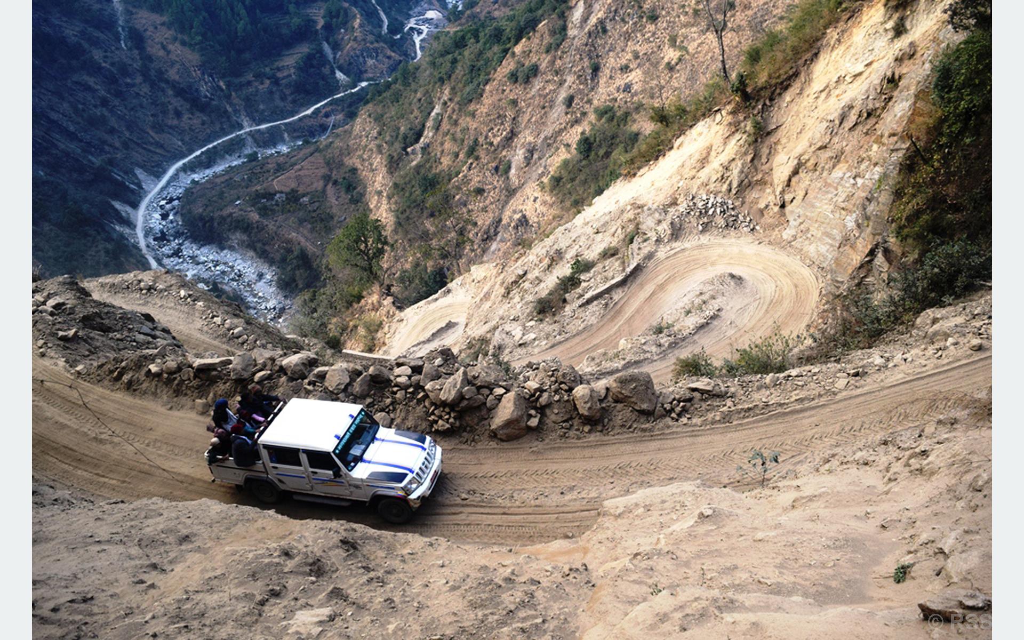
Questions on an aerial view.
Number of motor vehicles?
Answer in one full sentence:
The picture shows 1 motor vehicle.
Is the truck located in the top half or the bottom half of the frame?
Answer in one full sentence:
The truck is in the bottom half of the image.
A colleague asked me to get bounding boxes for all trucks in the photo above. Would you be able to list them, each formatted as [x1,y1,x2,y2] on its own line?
[206,400,445,524]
